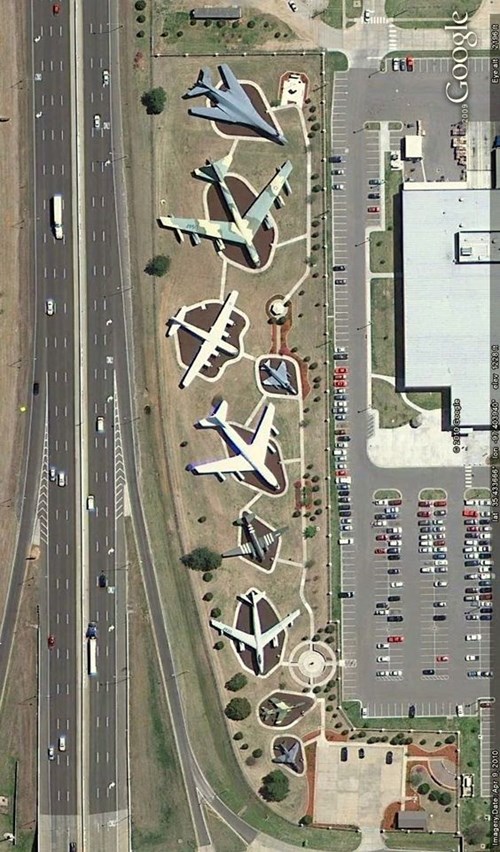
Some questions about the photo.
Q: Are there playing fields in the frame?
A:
No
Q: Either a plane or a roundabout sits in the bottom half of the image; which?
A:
plane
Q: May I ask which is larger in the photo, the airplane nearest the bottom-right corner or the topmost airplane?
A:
the topmost airplane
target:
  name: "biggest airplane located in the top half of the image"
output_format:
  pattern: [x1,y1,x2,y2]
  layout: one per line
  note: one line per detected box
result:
[161,153,292,266]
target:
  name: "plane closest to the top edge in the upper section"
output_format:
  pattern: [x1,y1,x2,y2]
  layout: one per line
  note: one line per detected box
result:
[186,65,287,141]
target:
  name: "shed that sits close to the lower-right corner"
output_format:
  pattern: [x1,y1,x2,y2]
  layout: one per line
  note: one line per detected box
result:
[399,811,426,829]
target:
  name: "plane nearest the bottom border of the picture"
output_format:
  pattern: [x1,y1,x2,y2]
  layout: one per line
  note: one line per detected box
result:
[274,739,300,772]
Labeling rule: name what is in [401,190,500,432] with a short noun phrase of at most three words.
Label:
building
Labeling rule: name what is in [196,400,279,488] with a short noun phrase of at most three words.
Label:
airplane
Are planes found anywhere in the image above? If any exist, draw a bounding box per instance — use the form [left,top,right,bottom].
[170,288,240,387]
[186,65,287,141]
[274,739,300,772]
[196,400,279,488]
[260,698,305,724]
[255,359,296,393]
[211,589,299,672]
[220,515,289,562]
[161,153,292,266]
